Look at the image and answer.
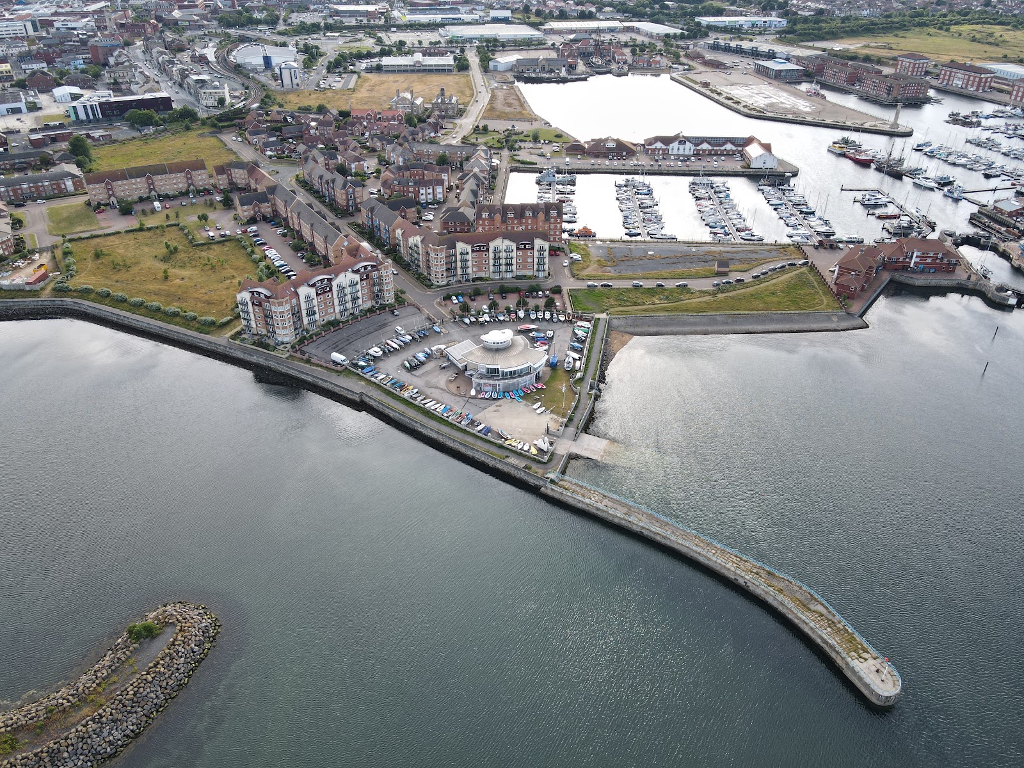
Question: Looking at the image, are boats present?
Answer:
Yes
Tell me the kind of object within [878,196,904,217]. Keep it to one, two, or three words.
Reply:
boat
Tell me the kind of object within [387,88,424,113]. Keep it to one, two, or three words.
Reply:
house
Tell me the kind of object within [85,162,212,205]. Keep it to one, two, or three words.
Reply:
building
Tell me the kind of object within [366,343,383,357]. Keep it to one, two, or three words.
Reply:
boat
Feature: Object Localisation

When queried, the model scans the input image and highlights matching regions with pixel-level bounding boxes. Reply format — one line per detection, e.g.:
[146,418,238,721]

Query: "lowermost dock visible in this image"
[540,475,900,709]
